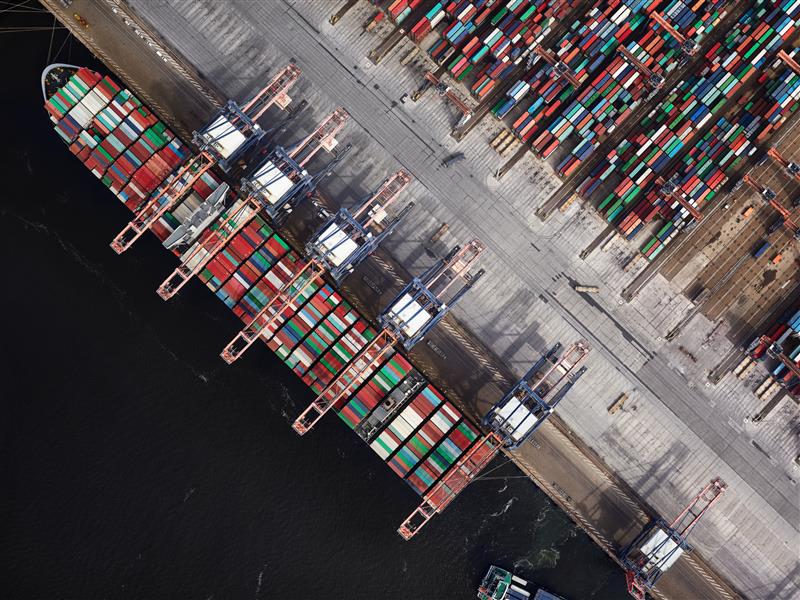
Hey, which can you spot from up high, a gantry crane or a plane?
gantry crane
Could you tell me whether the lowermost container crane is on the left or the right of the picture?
right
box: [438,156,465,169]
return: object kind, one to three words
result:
vehicle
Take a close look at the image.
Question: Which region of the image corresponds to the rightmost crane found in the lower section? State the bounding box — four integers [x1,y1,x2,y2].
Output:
[738,327,800,394]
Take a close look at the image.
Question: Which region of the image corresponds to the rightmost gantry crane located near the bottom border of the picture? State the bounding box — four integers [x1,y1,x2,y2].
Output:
[610,470,737,600]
